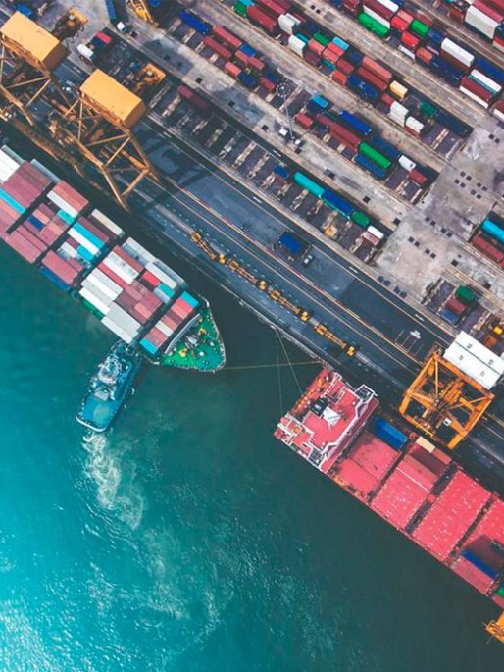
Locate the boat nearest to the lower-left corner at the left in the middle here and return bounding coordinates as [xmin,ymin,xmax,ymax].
[78,344,138,435]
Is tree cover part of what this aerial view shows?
No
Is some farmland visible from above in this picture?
No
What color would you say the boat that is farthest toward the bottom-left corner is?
blue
